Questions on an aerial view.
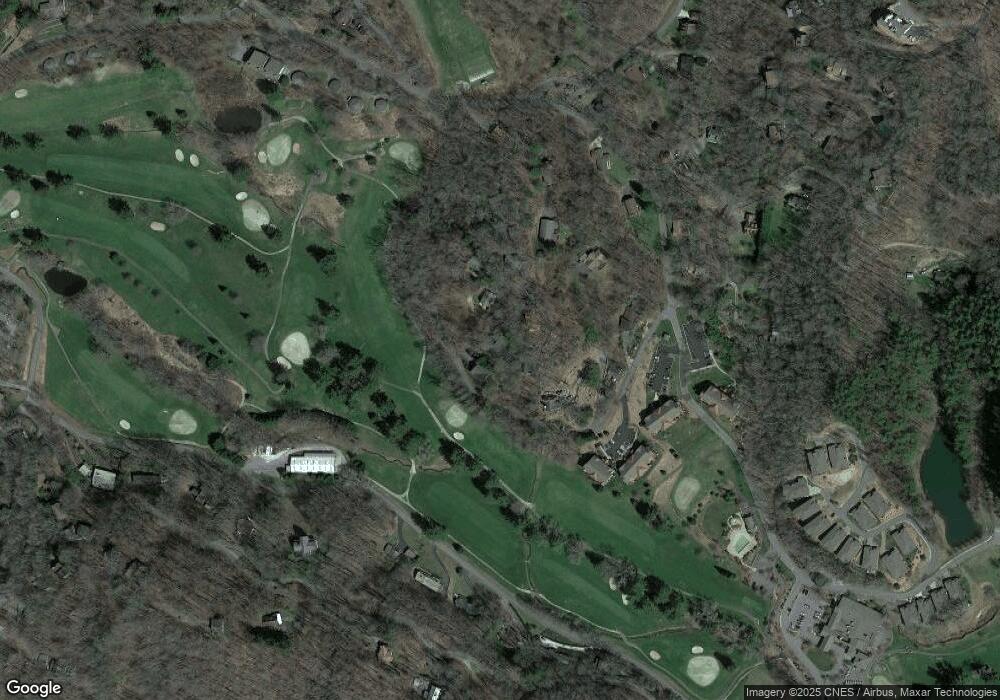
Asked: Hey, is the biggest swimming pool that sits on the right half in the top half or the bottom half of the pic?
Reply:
bottom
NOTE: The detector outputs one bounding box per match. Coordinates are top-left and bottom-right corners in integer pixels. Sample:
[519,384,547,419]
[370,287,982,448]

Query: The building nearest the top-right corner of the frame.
[880,5,907,37]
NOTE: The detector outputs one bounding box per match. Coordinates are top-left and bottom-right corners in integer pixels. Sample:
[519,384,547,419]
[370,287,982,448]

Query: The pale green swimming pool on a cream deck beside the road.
[729,513,757,557]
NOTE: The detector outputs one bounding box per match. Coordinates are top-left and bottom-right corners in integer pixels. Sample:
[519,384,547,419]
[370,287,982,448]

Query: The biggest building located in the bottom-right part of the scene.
[821,591,892,658]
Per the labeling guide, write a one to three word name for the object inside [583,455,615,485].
house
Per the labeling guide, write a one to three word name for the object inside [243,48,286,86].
building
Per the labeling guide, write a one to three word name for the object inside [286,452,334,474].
building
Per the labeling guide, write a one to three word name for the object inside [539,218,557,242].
house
